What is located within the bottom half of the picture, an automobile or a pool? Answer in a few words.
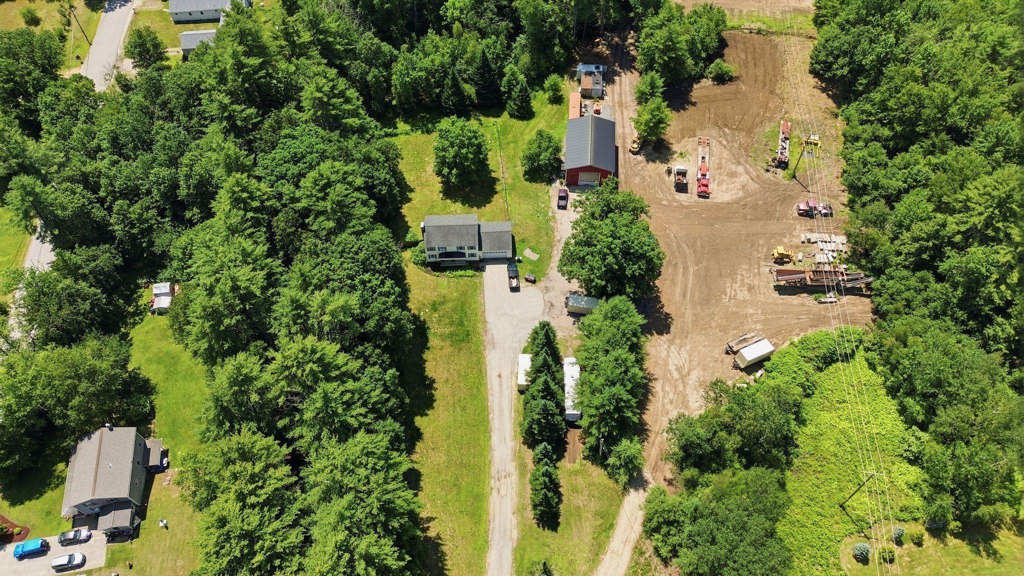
automobile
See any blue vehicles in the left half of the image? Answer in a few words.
Yes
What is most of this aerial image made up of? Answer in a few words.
trees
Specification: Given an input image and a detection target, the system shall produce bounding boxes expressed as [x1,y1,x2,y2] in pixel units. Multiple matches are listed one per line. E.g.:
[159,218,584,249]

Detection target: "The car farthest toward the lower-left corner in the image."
[9,536,46,559]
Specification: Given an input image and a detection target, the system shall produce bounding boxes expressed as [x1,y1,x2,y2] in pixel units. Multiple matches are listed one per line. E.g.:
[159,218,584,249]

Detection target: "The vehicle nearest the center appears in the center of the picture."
[507,262,520,289]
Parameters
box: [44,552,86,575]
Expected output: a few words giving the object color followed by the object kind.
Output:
white car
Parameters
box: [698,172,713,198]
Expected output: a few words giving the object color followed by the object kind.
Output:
red vehicle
